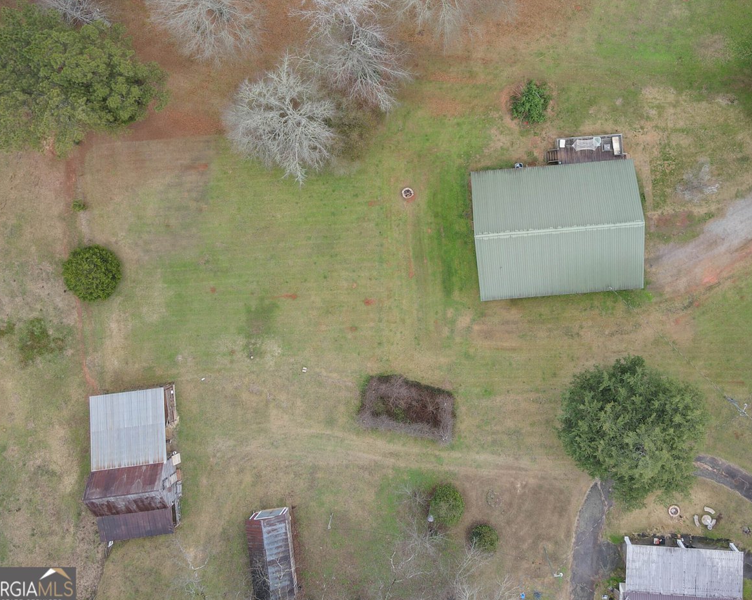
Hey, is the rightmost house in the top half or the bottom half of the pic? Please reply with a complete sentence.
The bottom half of the photo is where the rightmost house is.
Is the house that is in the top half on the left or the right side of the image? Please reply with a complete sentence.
The house that is in the top half sits on the right side.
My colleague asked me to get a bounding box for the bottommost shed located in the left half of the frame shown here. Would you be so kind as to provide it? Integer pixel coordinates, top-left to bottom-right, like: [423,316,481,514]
[245,506,302,600]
